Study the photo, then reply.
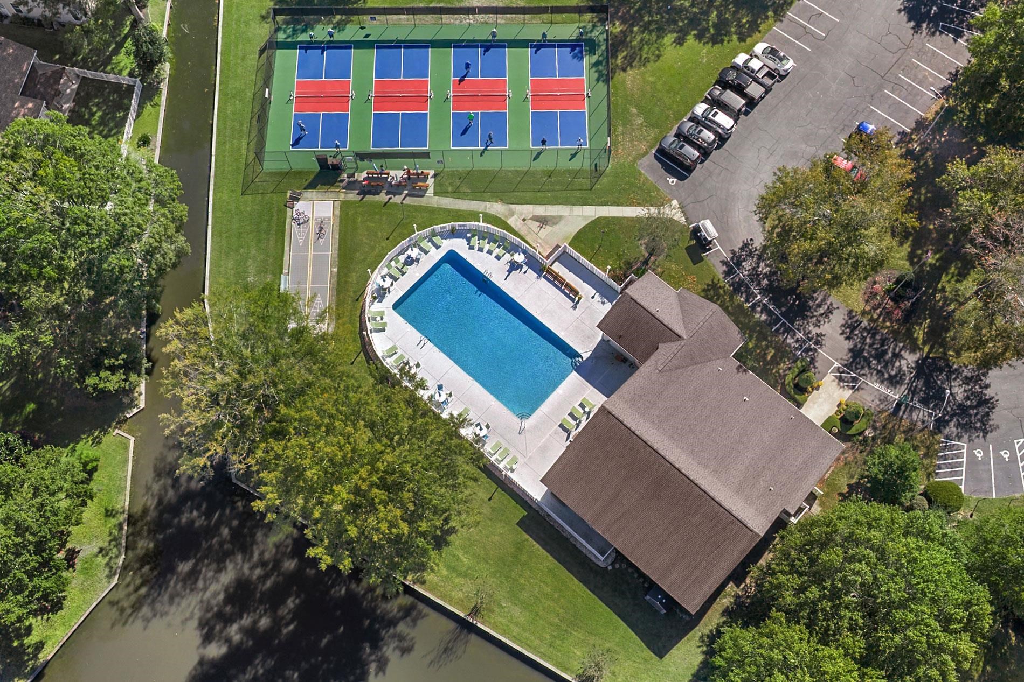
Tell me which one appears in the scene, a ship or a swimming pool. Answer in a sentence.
This aerial view contains a swimming pool.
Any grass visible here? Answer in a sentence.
Yes, the picture does contain grass.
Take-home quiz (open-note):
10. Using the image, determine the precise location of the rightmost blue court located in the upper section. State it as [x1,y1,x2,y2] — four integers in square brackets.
[529,42,588,147]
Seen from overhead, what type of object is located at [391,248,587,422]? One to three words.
swimming pool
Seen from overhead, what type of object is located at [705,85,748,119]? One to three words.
car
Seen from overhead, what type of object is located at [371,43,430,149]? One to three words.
sports court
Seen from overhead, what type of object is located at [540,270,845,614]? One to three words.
building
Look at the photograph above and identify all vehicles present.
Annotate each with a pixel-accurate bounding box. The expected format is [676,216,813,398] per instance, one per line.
[749,39,794,74]
[705,85,748,119]
[657,134,701,169]
[848,120,882,153]
[696,219,719,247]
[688,101,733,137]
[732,51,782,91]
[673,118,717,153]
[719,67,770,108]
